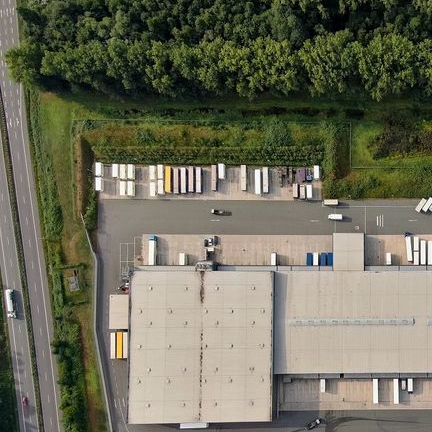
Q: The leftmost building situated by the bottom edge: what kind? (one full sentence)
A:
From above, the leftmost building situated by the bottom edge can be identified as a warehouse.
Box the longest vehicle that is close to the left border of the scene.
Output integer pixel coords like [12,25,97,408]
[7,288,20,318]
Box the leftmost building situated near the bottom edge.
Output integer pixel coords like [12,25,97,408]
[128,266,280,429]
